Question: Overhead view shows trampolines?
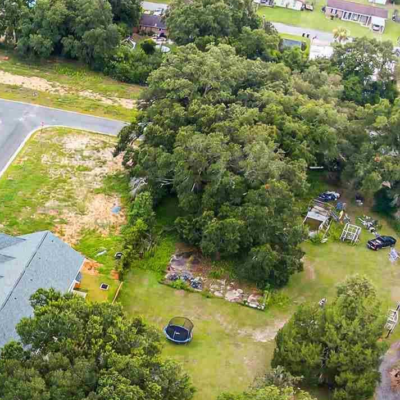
Yes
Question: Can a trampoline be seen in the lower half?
Yes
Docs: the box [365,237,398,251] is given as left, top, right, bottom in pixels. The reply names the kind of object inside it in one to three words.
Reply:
vehicle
